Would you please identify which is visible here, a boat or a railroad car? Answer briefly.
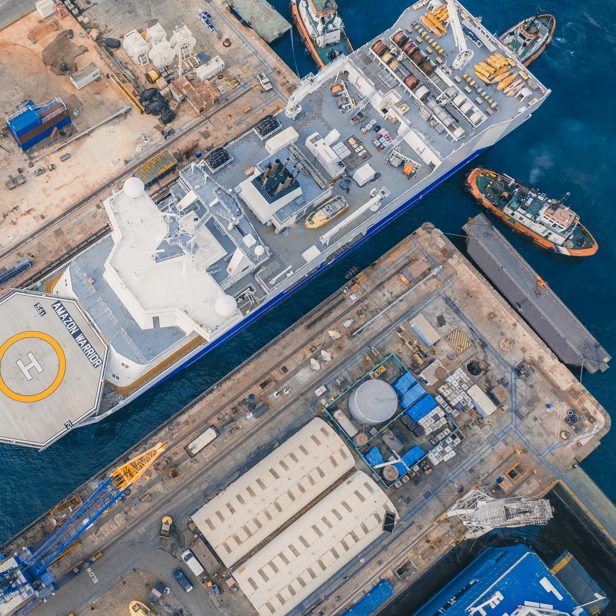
boat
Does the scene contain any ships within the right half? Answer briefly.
Yes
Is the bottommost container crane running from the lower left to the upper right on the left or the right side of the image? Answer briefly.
left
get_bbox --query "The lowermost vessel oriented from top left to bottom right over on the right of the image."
[457,212,615,377]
